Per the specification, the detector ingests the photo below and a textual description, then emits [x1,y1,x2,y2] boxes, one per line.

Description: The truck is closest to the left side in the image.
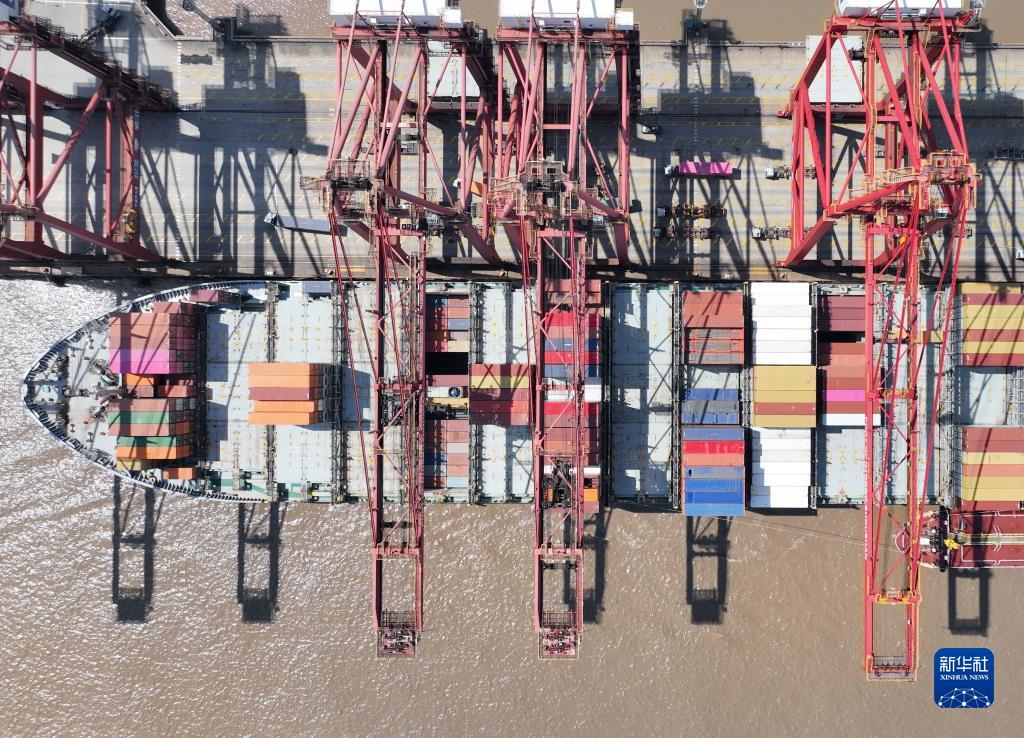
[67,0,122,47]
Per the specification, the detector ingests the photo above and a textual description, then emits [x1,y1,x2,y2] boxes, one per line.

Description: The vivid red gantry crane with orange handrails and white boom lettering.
[769,0,980,685]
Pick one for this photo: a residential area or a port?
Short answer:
port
